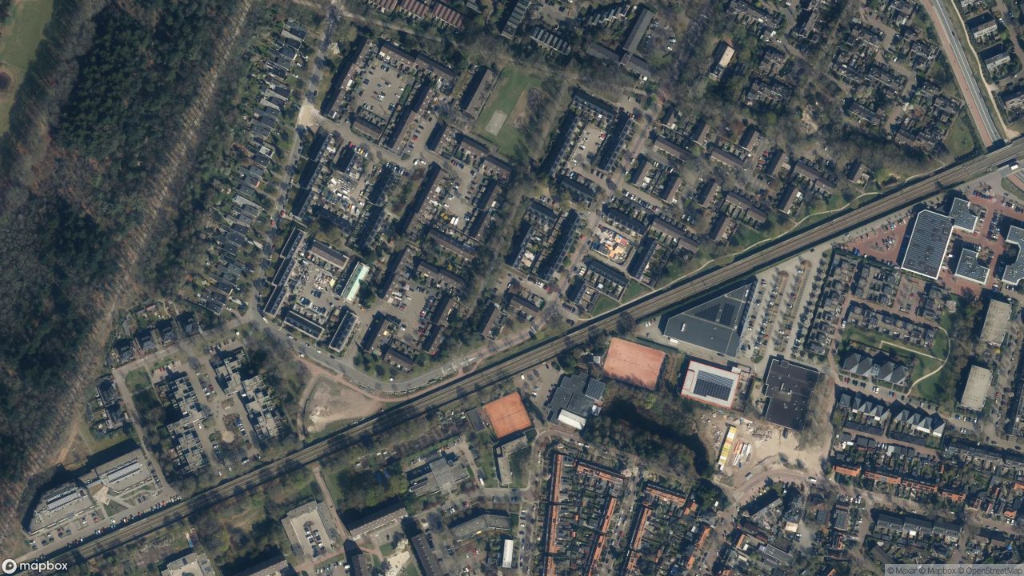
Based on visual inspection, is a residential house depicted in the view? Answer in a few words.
Yes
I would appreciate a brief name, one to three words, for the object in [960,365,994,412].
building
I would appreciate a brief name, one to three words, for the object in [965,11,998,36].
house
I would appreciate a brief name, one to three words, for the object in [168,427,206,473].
building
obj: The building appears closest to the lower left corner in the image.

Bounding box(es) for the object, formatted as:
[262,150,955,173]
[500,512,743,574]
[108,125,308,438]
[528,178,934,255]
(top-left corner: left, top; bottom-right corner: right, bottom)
[24,482,96,536]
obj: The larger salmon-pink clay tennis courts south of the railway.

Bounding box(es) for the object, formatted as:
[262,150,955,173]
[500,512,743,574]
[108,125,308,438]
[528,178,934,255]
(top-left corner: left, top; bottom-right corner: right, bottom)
[604,337,666,389]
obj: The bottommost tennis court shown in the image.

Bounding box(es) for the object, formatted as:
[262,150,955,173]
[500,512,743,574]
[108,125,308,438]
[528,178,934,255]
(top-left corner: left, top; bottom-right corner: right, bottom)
[482,392,532,438]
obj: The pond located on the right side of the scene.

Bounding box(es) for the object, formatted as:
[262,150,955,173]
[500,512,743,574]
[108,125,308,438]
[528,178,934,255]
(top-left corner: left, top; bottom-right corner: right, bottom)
[616,399,709,473]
